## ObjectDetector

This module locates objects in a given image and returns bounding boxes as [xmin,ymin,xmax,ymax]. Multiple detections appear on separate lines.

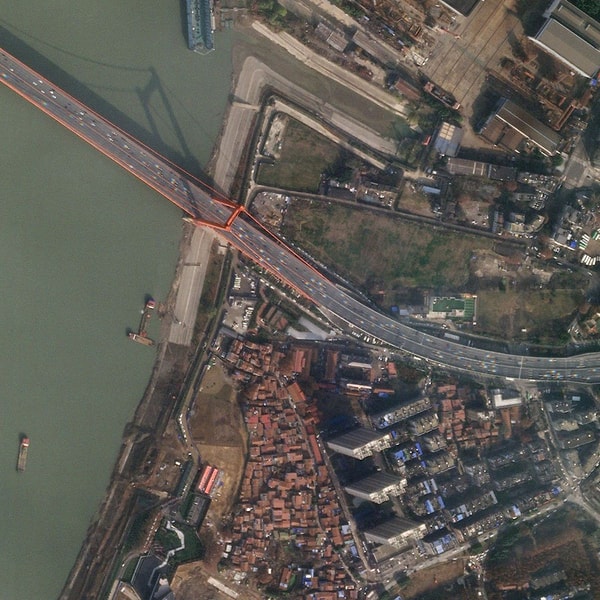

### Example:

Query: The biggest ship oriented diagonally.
[422,86,459,111]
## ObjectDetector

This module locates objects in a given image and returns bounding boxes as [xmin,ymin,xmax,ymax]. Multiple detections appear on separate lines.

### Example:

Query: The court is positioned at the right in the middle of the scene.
[432,295,476,325]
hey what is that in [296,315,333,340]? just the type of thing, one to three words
shed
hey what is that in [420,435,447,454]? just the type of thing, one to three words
building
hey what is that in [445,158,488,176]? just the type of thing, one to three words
shed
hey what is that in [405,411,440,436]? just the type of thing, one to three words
building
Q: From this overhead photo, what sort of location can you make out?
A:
port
